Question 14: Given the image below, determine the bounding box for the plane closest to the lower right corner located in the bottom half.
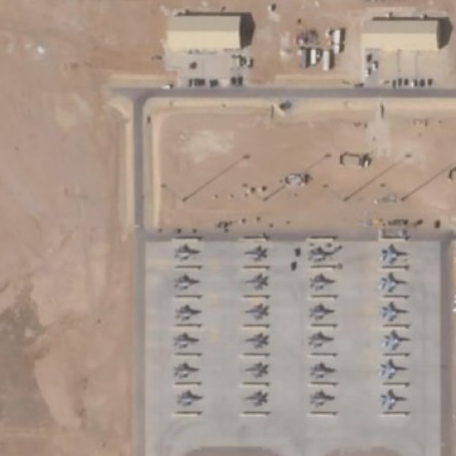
[376,391,403,408]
